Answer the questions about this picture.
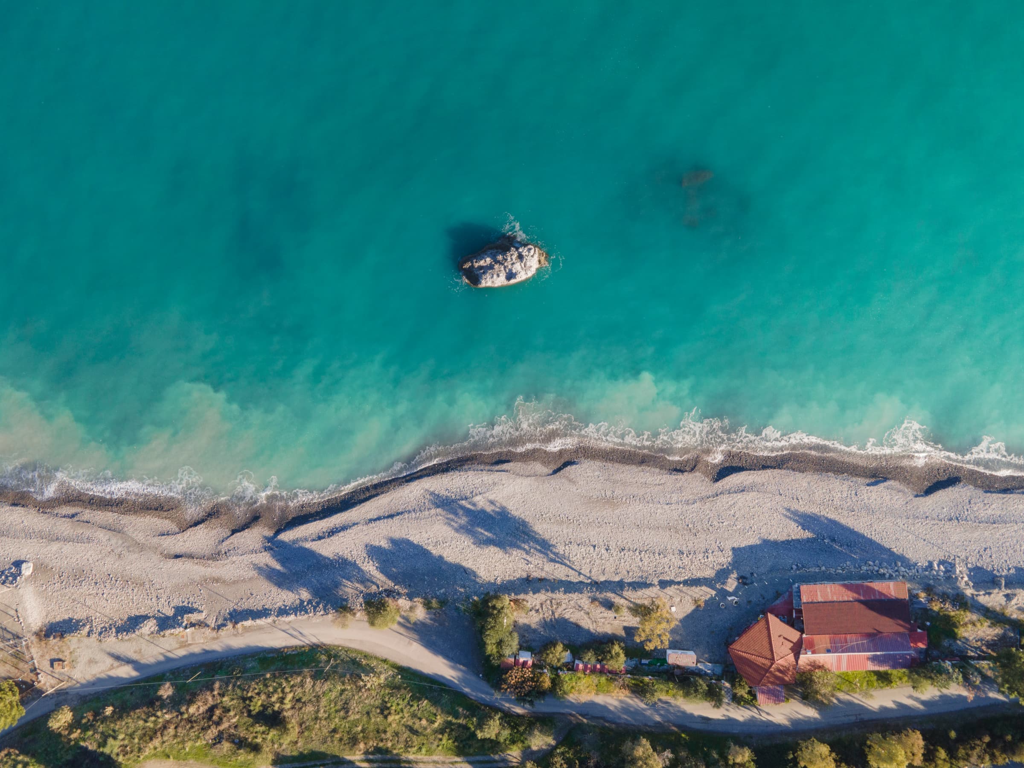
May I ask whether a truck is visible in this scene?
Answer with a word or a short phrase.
No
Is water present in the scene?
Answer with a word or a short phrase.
Yes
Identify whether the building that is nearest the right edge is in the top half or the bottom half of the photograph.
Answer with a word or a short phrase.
bottom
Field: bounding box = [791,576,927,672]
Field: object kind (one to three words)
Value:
building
